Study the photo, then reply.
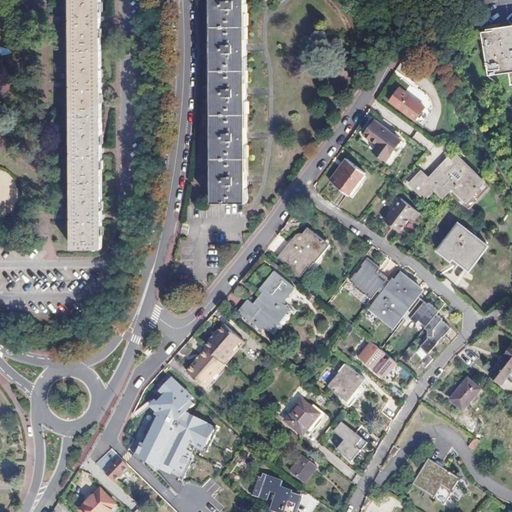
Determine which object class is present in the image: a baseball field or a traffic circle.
traffic circle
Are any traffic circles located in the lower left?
Yes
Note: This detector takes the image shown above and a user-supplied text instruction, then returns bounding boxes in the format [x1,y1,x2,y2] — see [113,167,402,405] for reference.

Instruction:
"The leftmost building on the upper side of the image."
[66,0,106,252]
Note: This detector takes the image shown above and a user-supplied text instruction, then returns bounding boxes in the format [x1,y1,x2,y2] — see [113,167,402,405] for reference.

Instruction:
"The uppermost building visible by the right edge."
[481,26,512,86]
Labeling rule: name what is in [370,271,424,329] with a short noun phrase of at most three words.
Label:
building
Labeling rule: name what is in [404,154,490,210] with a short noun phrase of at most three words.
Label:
house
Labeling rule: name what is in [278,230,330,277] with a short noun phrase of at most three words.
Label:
house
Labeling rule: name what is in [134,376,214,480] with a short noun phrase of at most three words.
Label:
building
